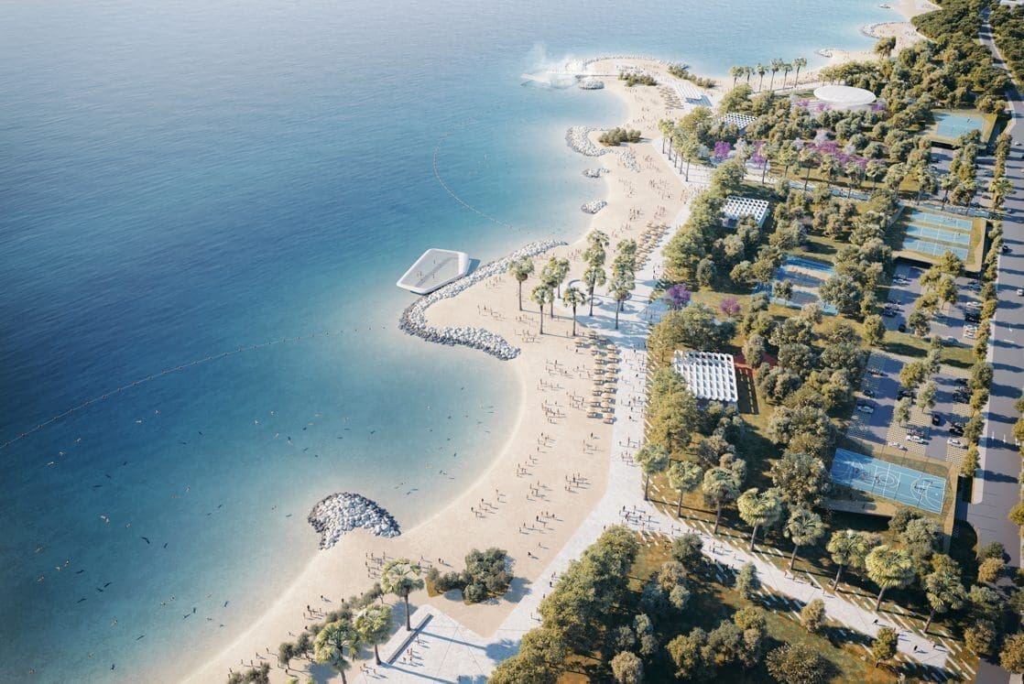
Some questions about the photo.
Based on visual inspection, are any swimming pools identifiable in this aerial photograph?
No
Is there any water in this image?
Yes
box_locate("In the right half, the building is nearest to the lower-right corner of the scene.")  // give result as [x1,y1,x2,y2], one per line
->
[673,352,738,419]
